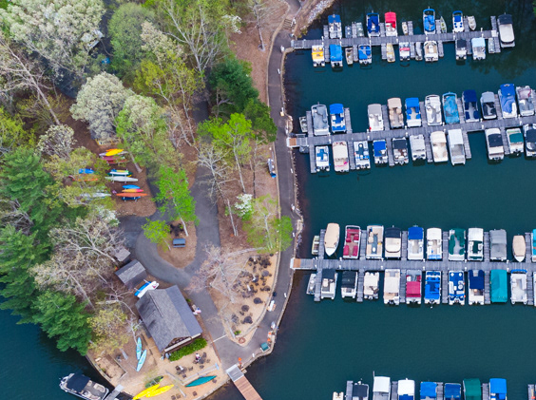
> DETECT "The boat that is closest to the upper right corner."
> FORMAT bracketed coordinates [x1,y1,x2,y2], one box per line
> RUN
[498,14,514,48]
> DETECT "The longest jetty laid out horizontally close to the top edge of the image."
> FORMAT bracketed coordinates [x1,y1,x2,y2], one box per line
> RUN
[304,17,500,64]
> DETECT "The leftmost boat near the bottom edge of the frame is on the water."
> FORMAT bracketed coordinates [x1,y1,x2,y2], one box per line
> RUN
[59,373,109,400]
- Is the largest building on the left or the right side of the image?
left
